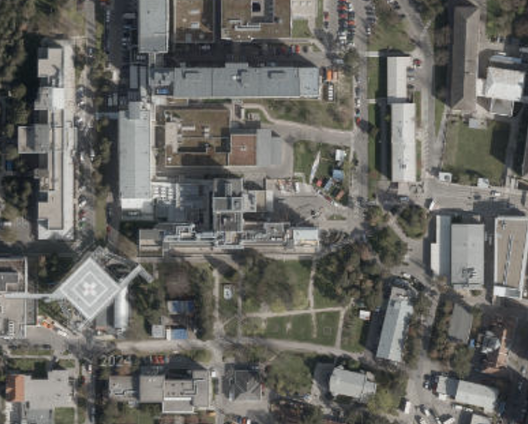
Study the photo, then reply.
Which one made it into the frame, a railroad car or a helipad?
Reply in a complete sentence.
There is a helipad in the scene.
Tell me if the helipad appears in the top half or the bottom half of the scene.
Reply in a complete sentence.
It is in the bottom half that the helipad appears.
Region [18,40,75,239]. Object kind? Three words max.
building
